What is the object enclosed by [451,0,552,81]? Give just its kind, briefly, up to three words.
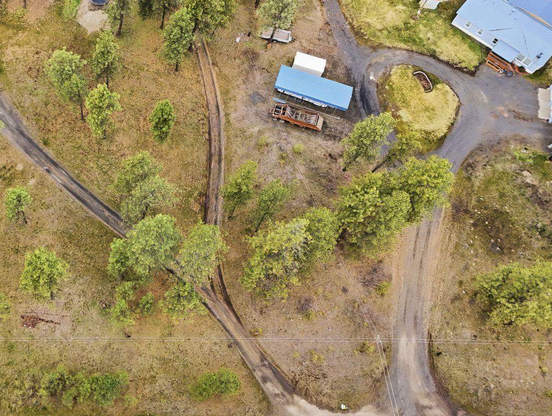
house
